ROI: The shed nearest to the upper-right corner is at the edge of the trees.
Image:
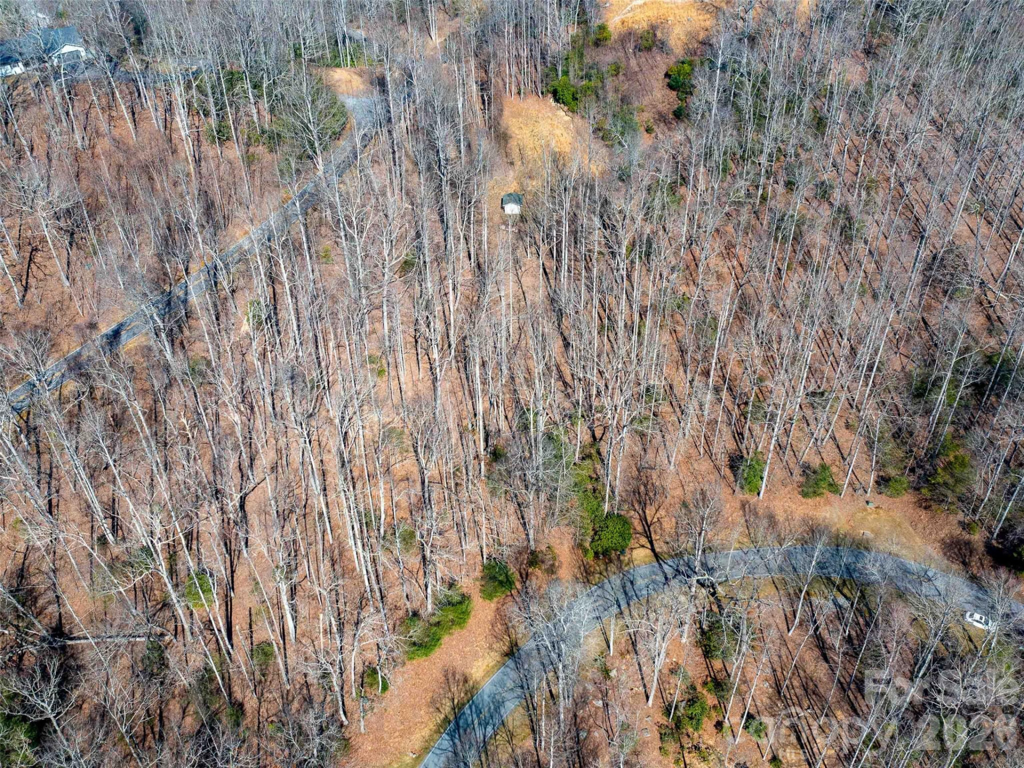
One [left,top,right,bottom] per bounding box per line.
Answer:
[503,191,523,214]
